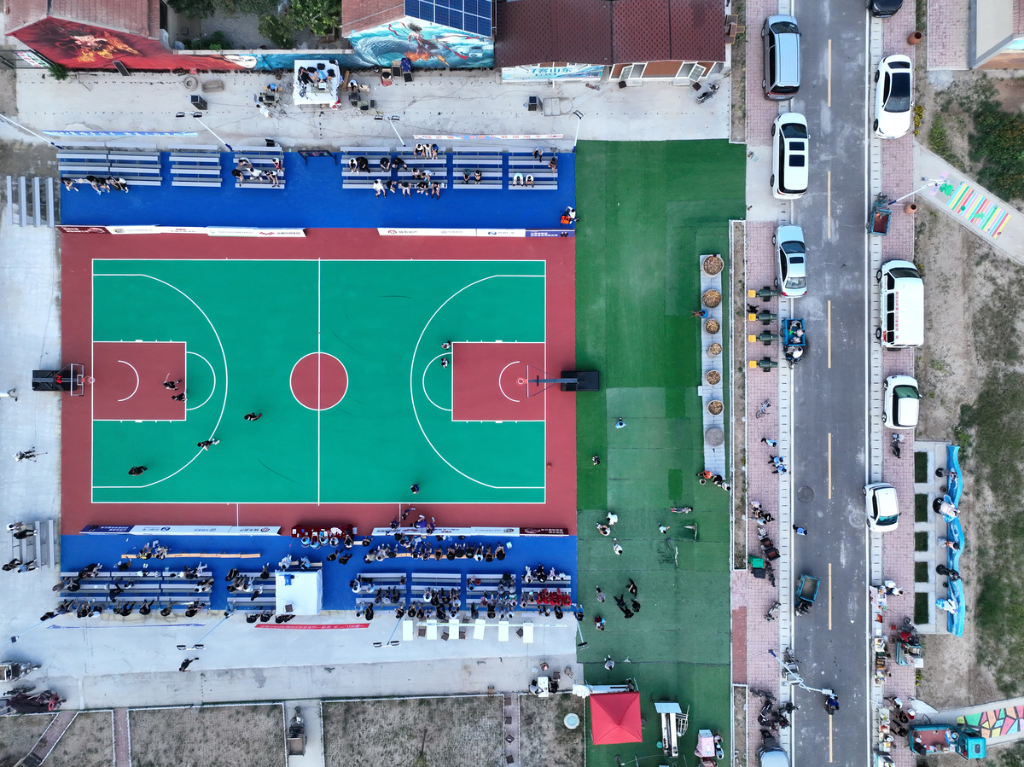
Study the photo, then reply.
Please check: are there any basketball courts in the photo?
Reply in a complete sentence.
Yes, you can see a basketball court in this photo.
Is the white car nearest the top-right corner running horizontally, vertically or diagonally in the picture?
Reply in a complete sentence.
In this picture, the white car nearest the top-right corner lies vertically.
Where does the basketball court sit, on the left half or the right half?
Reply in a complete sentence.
The basketball court is on the left side of the image.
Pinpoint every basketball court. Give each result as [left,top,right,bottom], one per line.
[61,228,577,535]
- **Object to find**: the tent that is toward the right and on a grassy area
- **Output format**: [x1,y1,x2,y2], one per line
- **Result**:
[587,679,642,744]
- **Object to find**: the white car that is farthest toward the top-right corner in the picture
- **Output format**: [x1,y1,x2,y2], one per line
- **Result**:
[872,54,916,140]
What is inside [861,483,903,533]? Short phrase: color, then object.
white car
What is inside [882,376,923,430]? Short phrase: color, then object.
white car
